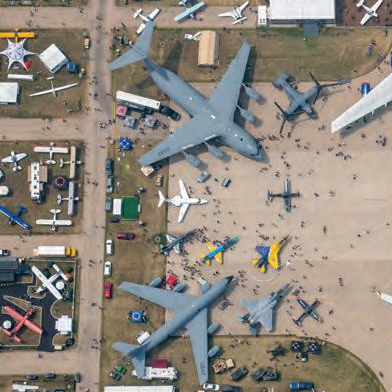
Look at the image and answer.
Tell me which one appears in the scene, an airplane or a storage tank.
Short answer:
airplane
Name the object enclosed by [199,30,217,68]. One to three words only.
tent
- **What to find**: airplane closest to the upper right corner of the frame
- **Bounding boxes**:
[356,0,382,25]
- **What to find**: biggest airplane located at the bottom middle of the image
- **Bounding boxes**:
[114,273,234,386]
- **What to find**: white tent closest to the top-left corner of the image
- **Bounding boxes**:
[0,33,38,71]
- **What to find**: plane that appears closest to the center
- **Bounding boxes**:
[157,178,208,221]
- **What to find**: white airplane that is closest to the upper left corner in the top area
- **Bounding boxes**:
[28,75,78,97]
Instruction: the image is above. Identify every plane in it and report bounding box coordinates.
[157,178,208,221]
[175,0,205,22]
[133,7,158,32]
[249,236,288,274]
[114,273,234,386]
[36,209,71,230]
[268,178,302,211]
[28,75,78,97]
[220,1,250,24]
[356,0,382,25]
[57,180,80,215]
[290,298,321,328]
[198,237,239,268]
[272,71,345,129]
[105,22,264,172]
[59,146,82,178]
[0,27,34,48]
[2,304,43,344]
[0,202,30,234]
[0,150,27,171]
[237,283,290,336]
[32,264,67,301]
[33,142,67,163]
